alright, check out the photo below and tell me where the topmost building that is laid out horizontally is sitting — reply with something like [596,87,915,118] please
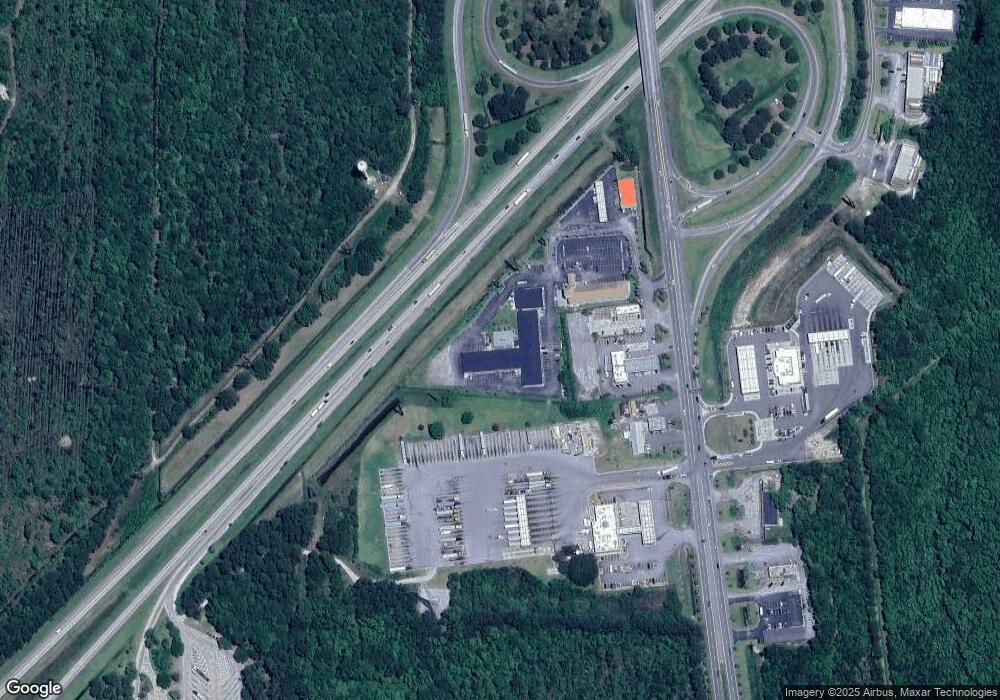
[901,7,953,32]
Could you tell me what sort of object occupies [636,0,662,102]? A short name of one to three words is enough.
overpass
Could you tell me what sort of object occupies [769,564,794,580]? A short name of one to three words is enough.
building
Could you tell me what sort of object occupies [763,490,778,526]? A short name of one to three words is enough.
building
